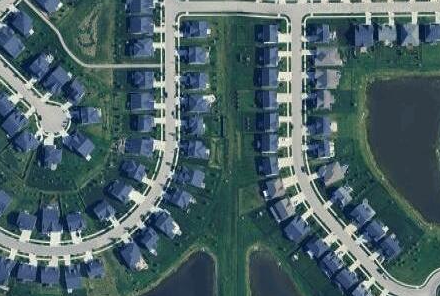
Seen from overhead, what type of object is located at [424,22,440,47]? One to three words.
house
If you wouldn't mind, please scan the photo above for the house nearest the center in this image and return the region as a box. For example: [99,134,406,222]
[189,140,214,158]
